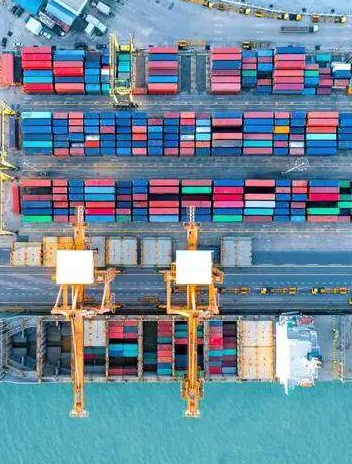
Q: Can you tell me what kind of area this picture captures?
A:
port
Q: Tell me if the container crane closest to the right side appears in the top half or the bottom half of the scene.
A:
bottom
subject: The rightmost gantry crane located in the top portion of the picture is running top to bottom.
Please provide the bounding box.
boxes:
[110,32,140,107]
